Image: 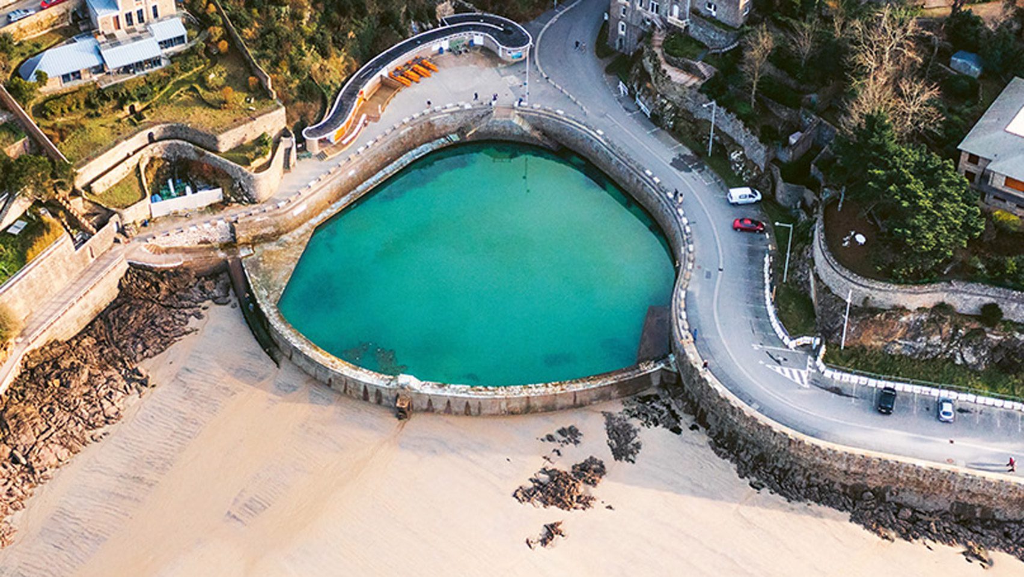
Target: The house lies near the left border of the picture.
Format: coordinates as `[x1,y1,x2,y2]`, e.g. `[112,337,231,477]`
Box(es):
[18,0,188,97]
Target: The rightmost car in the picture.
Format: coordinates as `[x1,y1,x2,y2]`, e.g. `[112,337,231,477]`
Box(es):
[935,396,959,424]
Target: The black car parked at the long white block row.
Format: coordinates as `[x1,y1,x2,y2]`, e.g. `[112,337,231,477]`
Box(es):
[876,387,898,413]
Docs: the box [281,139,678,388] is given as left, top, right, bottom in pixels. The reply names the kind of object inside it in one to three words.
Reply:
swimming pool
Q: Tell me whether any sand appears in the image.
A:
Yes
